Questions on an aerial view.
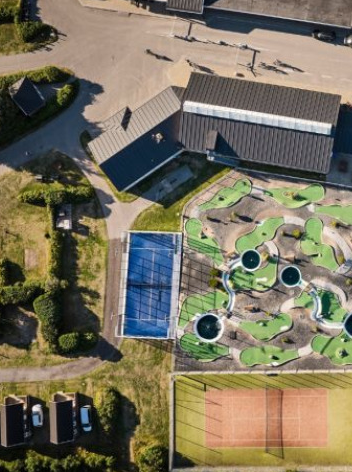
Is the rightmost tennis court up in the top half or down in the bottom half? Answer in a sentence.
The rightmost tennis court sits in the bottom half of the picture.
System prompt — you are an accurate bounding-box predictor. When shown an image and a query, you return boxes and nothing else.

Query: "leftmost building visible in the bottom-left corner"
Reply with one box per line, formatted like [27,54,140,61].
[0,391,35,448]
